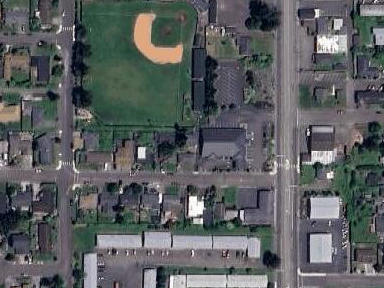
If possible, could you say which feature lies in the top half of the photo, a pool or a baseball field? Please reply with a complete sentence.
Looking in the top half of the photo, you will find a baseball field.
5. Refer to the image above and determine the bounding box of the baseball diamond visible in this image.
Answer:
[82,1,197,126]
